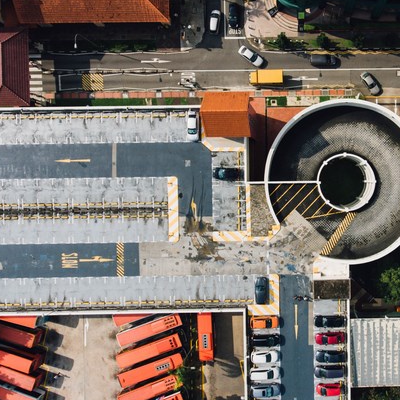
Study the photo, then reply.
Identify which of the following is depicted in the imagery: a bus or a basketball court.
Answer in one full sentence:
There is a bus in the scene.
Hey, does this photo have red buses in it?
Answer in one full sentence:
Yes, the photo shows a red bus.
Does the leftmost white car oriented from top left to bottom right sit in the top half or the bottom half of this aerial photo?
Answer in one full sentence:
It is in the top half that the leftmost white car oriented from top left to bottom right appears.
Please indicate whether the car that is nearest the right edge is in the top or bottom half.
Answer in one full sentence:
You can find the car that is nearest the right edge in the top half.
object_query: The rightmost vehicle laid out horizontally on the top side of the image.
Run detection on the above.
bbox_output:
[310,53,338,66]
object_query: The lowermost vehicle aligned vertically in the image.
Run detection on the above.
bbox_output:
[198,314,217,359]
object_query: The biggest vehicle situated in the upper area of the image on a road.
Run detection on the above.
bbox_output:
[251,70,284,88]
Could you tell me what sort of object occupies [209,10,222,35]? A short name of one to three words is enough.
vehicle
